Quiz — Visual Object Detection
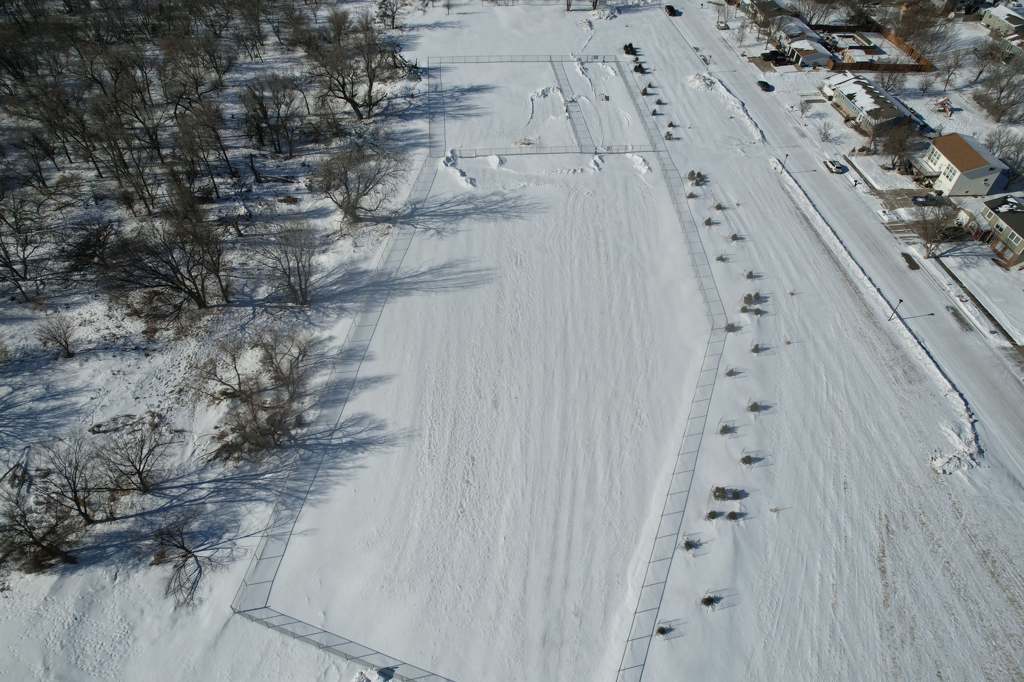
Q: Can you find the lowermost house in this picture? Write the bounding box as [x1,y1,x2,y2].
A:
[945,191,1024,277]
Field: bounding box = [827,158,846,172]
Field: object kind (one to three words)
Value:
car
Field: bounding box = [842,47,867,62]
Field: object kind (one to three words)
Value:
shed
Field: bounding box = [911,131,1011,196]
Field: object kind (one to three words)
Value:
house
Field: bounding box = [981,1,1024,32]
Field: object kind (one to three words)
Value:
house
